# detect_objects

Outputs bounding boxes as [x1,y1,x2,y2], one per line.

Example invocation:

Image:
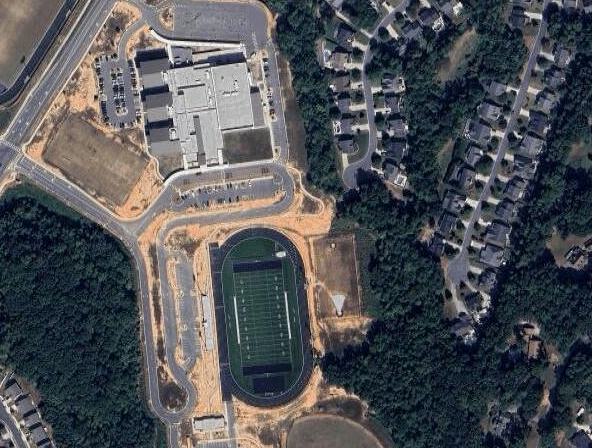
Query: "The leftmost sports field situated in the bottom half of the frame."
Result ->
[222,237,304,398]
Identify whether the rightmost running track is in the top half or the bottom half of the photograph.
bottom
